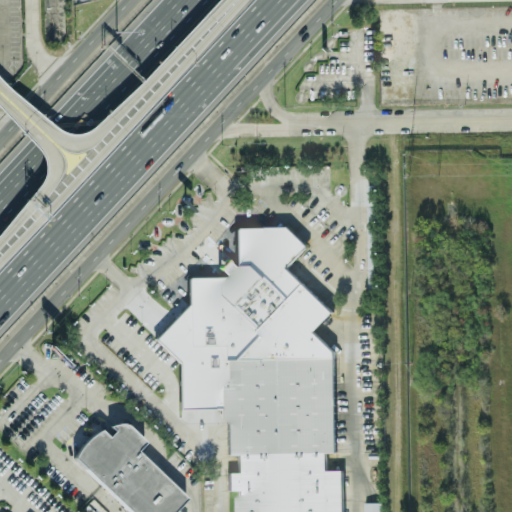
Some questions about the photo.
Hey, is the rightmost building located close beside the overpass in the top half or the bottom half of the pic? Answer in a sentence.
Seen from above, the rightmost building located close beside the overpass lies in the bottom half of the view.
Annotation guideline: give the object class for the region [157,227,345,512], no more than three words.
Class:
building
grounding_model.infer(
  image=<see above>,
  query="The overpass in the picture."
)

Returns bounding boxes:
[0,0,255,272]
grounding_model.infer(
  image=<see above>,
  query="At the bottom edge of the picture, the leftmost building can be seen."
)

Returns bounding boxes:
[76,423,190,512]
